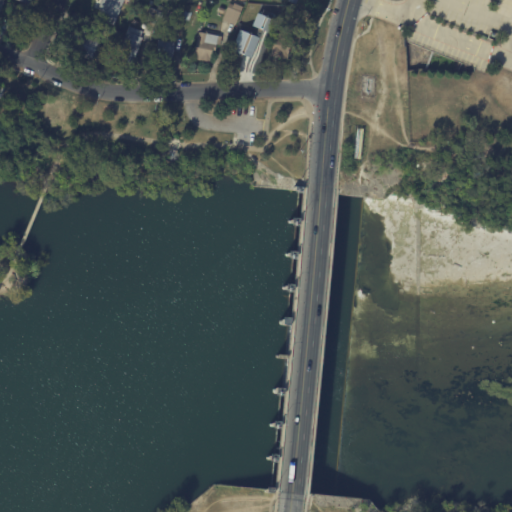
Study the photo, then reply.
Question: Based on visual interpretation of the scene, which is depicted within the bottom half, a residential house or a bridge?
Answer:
bridge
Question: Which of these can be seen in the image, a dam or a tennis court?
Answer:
dam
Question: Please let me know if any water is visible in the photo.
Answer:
Yes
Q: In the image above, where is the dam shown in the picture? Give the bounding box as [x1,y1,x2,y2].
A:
[266,186,362,494]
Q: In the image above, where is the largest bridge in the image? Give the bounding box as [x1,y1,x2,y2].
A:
[276,187,338,494]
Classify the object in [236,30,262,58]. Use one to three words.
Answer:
house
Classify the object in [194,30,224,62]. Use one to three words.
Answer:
house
